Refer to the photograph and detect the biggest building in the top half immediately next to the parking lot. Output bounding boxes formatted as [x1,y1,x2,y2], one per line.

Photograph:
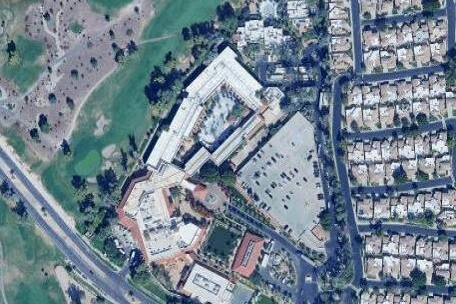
[145,46,263,178]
